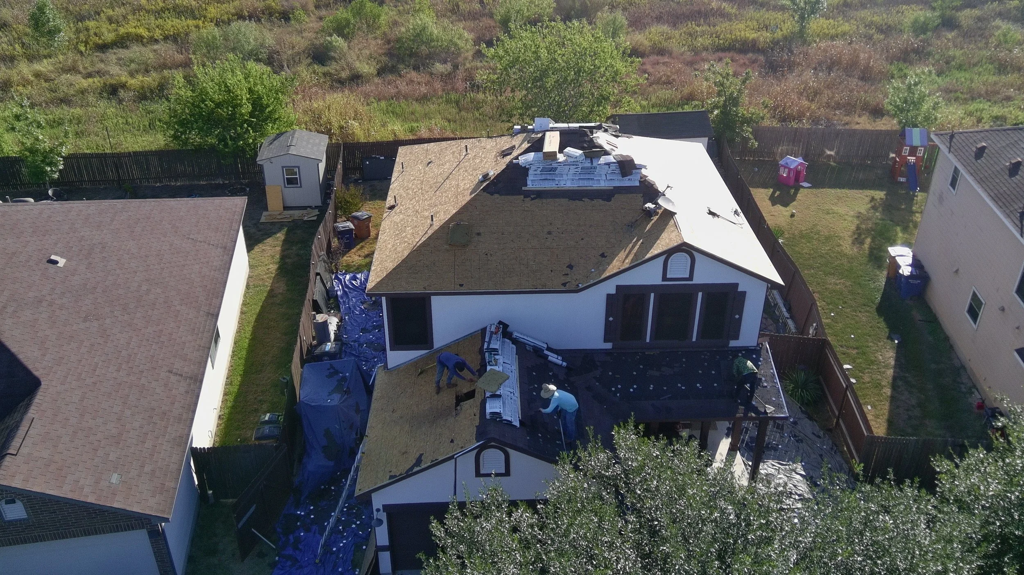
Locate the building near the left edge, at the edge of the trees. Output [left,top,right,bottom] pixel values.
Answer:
[0,196,250,575]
